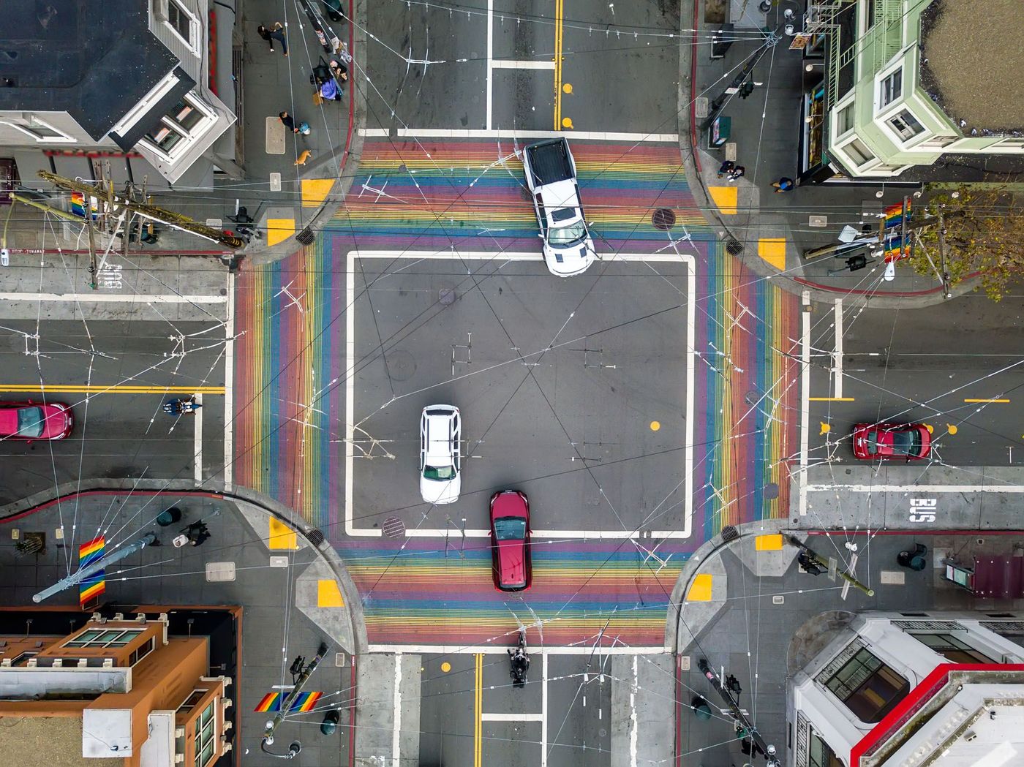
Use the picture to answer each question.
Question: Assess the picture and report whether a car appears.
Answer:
Yes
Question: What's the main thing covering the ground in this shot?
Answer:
paved ground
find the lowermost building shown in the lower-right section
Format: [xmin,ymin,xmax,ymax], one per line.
[783,606,1024,767]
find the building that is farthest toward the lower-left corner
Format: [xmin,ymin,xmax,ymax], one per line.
[0,607,243,767]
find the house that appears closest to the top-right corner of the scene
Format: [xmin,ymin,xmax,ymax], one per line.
[796,0,1024,191]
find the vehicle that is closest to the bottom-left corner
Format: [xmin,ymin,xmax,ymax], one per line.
[0,396,75,444]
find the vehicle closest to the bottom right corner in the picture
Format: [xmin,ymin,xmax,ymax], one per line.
[850,420,929,464]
